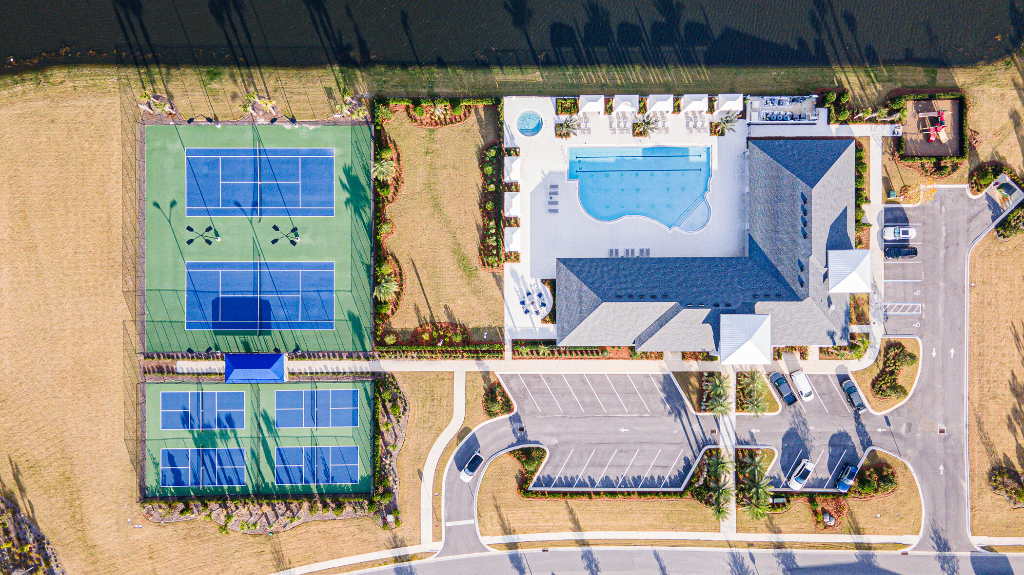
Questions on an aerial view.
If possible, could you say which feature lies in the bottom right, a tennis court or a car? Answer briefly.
car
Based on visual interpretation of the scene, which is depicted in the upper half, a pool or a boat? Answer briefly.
pool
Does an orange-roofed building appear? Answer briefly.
No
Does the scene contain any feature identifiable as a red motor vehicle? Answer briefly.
No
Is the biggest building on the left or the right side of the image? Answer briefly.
right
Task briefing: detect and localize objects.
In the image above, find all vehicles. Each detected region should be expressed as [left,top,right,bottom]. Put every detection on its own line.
[788,457,813,489]
[835,460,859,491]
[840,378,866,413]
[769,370,797,407]
[884,245,917,260]
[882,225,915,240]
[460,450,485,482]
[788,368,815,401]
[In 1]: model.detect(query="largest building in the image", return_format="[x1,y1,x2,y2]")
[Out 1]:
[556,139,855,352]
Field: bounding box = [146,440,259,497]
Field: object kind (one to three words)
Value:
sports court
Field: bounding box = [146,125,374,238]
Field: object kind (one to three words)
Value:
tennis court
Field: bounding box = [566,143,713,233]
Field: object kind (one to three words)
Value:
swimming pool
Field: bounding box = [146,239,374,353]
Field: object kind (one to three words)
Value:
tennis court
